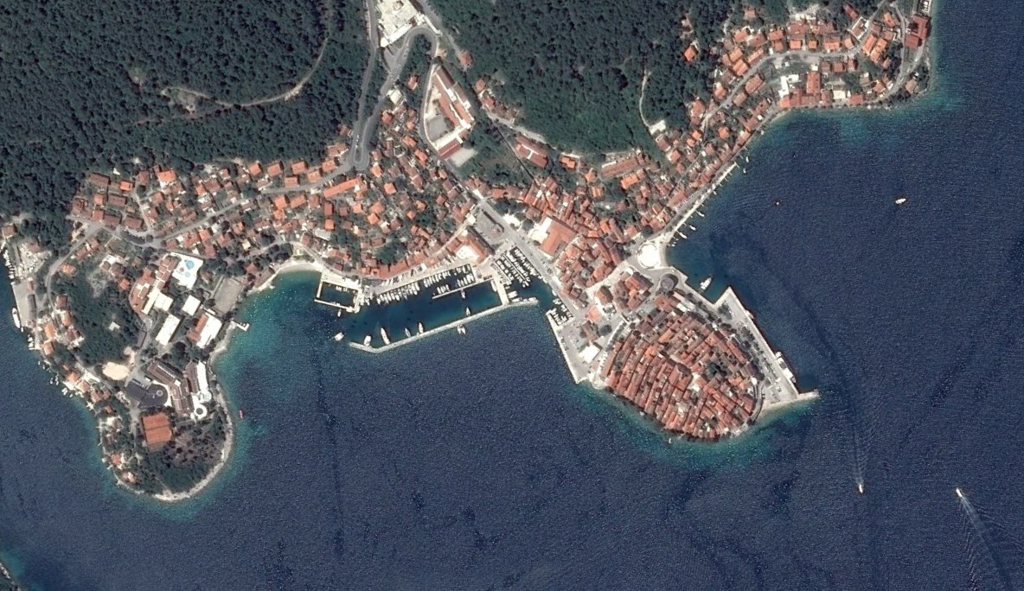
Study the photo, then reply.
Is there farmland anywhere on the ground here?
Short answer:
No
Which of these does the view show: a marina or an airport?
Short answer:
marina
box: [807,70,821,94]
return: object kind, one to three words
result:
house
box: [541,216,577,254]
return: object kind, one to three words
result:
building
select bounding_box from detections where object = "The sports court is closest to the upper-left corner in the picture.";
[213,278,241,312]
